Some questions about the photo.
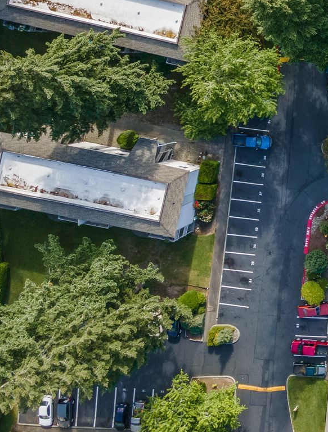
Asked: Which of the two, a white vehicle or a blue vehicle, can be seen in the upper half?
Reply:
blue vehicle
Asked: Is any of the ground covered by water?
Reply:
No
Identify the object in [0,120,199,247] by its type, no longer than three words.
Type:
building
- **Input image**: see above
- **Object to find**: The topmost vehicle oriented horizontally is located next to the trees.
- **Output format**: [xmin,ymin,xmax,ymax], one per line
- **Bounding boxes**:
[232,133,272,150]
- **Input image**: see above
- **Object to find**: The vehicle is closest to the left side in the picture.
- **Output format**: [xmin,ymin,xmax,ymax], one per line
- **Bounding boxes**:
[37,394,56,427]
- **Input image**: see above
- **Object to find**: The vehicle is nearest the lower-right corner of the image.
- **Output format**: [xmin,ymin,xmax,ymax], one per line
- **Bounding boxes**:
[292,360,328,377]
